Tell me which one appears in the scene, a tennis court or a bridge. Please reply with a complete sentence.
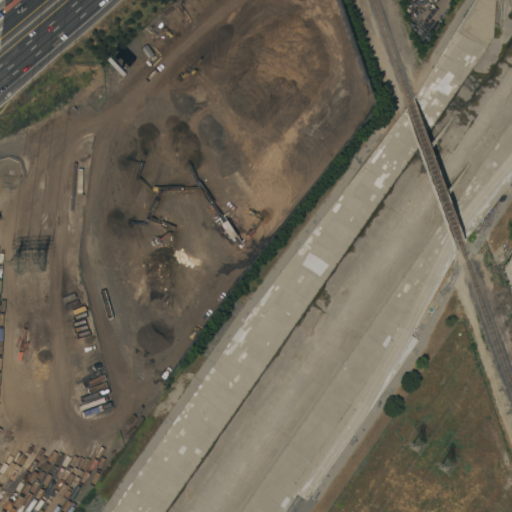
Visible in the photo is a bridge.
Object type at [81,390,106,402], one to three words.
vehicle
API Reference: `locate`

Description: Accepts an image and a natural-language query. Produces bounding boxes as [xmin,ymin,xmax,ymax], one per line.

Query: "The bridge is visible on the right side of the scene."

[404,103,471,254]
